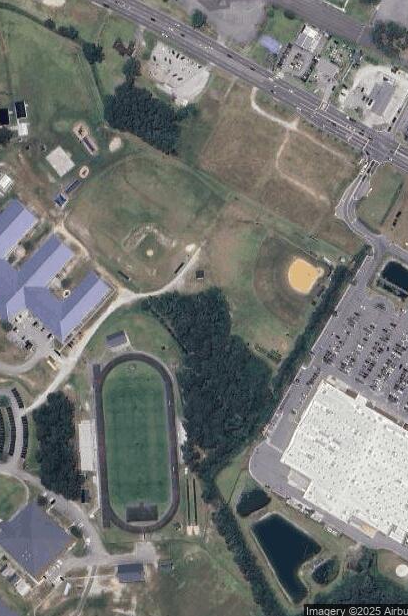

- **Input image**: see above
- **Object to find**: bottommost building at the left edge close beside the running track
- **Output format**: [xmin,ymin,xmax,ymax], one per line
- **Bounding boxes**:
[0,500,76,578]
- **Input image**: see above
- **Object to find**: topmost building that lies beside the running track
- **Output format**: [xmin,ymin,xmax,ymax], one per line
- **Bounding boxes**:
[0,200,113,339]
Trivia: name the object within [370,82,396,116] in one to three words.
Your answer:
building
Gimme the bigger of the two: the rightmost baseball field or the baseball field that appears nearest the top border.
the rightmost baseball field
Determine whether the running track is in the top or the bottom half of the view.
bottom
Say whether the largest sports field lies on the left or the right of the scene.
left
